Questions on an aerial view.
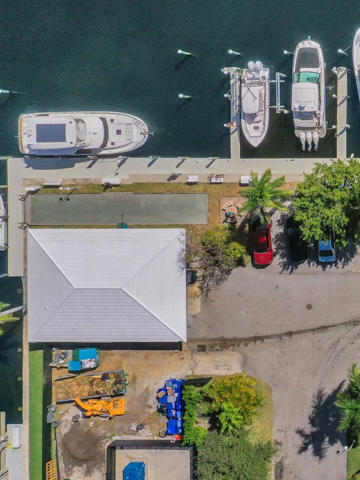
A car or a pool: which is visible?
car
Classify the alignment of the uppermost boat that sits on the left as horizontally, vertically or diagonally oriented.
horizontally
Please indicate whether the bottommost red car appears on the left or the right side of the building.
to its right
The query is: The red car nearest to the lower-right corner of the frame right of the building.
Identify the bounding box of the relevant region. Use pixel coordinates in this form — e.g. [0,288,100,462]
[249,220,274,267]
